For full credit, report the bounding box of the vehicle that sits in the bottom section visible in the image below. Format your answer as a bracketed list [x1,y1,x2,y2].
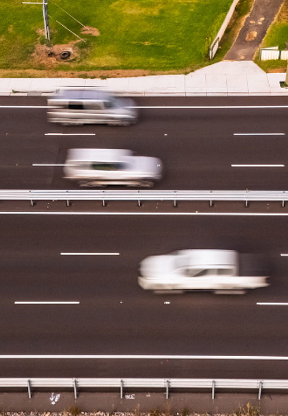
[144,243,265,292]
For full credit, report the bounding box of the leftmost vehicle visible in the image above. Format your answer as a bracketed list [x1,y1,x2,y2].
[65,142,158,185]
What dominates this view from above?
paved ground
